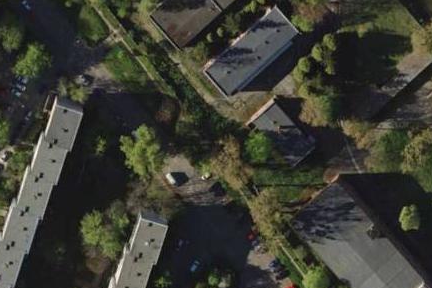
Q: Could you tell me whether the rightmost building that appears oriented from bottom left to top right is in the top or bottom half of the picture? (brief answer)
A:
top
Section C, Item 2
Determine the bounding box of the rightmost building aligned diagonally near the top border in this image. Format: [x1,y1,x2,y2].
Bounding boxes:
[202,2,300,97]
